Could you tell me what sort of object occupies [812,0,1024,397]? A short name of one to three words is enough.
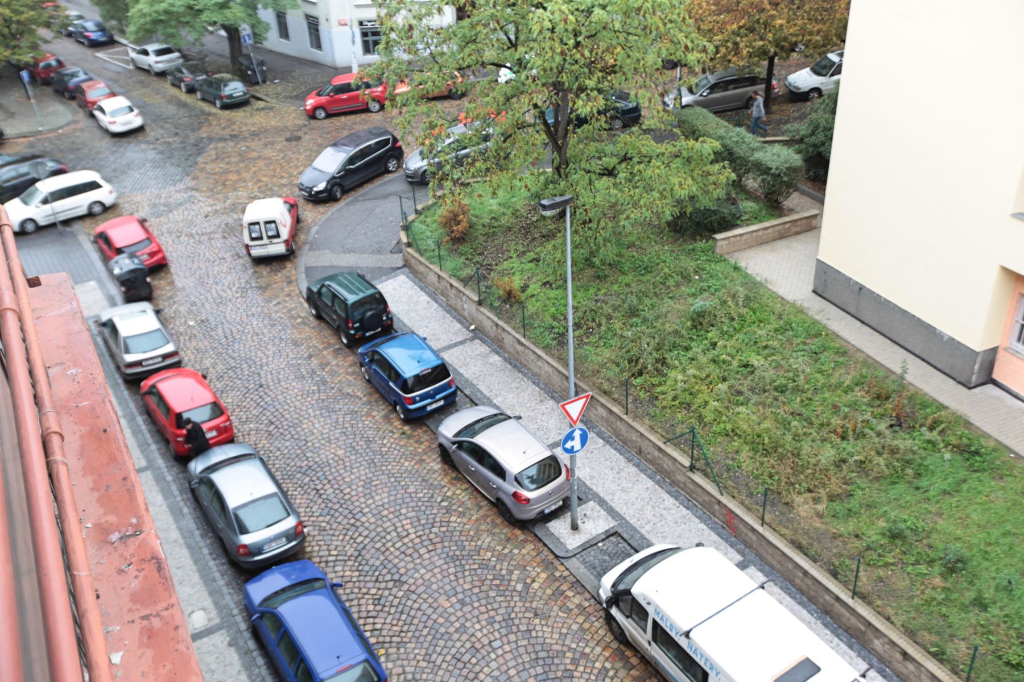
building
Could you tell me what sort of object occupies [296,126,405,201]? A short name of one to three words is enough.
car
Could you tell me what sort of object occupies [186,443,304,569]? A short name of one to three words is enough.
car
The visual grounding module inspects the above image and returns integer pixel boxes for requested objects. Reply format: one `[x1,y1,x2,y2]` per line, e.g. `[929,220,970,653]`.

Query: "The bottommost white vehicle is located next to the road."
[602,546,868,682]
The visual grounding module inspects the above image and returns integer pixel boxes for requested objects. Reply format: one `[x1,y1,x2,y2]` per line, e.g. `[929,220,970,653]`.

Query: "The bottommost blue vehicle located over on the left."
[250,560,392,682]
